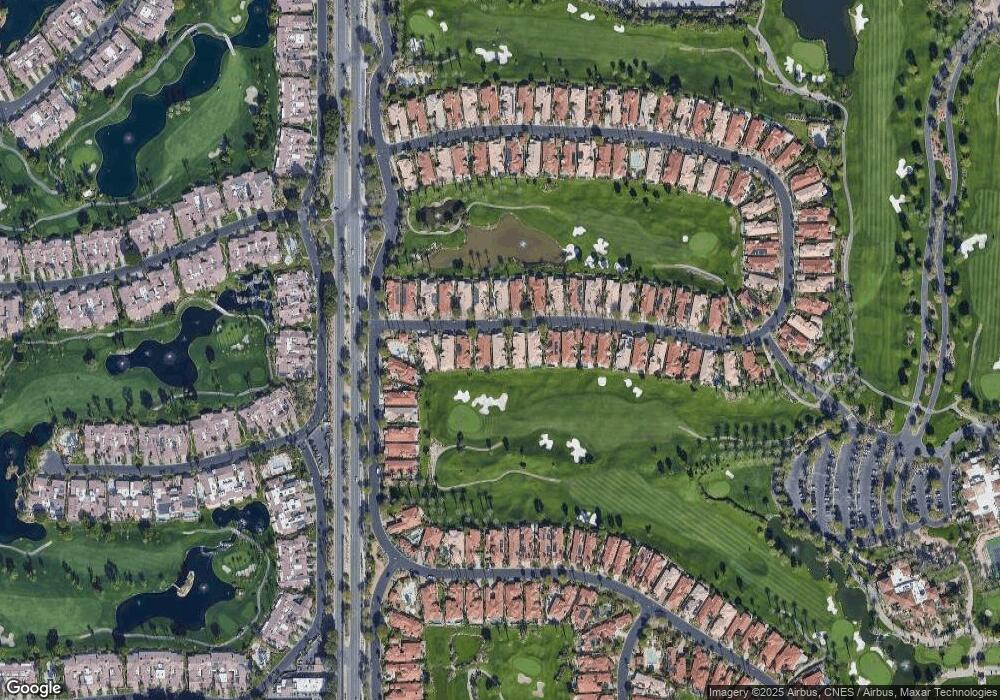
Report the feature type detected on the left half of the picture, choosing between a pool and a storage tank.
pool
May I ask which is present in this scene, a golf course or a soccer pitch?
golf course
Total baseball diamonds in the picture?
0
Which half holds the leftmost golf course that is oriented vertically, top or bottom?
top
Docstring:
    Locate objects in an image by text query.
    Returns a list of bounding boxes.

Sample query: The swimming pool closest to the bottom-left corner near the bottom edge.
[43,661,57,681]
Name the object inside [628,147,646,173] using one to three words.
swimming pool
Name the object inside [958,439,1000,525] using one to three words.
building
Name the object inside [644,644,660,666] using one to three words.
swimming pool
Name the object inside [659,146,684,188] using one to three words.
house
